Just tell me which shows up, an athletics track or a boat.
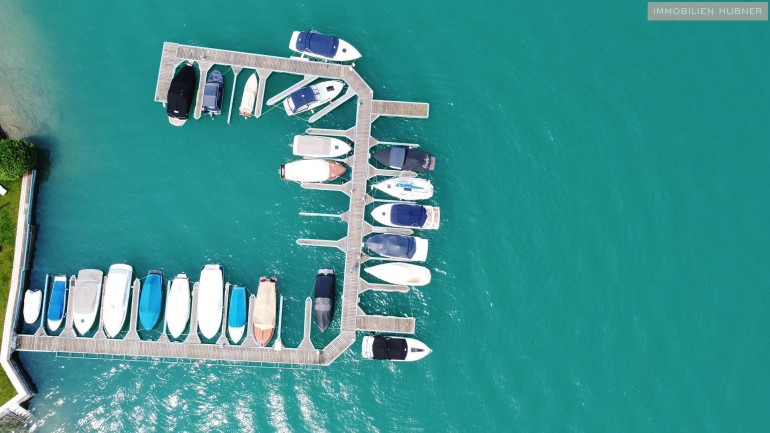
boat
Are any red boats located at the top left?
No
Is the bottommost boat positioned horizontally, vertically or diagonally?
horizontally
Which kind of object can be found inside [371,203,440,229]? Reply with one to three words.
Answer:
boat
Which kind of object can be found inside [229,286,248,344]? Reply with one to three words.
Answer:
boat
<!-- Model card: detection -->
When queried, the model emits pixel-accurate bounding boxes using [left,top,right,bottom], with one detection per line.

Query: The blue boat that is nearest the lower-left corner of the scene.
[48,272,69,332]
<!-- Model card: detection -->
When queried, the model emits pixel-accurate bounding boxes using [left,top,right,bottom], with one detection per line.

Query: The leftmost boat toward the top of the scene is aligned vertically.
[168,61,197,129]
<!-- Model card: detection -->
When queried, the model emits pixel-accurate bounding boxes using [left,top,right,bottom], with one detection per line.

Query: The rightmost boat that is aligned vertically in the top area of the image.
[240,74,259,119]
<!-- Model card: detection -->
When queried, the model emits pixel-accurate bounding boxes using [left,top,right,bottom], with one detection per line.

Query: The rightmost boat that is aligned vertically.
[314,267,335,333]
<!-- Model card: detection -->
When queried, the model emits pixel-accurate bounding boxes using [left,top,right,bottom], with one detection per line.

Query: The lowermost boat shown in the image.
[362,335,433,362]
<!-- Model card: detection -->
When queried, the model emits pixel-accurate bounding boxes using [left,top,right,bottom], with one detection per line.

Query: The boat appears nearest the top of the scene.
[289,29,362,62]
